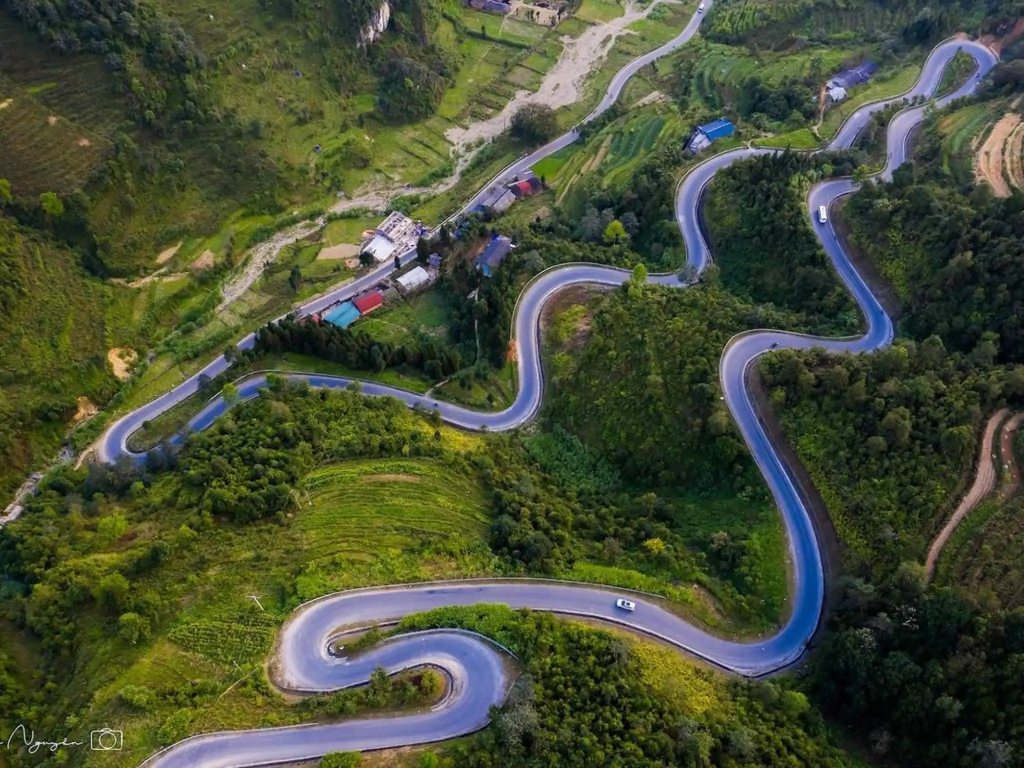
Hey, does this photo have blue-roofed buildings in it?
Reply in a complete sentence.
Yes, the picture does show a blue-roofed building.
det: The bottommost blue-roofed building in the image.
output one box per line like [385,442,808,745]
[326,302,364,331]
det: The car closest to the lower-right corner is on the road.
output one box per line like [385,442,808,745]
[615,599,636,612]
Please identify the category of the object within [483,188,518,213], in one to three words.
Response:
house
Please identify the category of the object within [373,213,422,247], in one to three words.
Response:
building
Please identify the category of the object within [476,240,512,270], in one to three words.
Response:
house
